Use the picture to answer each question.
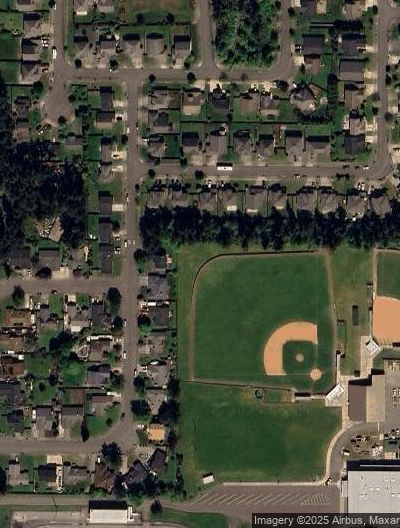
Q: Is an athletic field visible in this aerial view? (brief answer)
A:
Yes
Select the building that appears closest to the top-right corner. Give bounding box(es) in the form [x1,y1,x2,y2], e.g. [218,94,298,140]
[343,1,369,20]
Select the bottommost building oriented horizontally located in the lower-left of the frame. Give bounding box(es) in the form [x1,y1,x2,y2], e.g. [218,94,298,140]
[90,508,129,524]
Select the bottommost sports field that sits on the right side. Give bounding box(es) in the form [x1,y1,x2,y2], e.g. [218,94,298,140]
[176,384,342,500]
